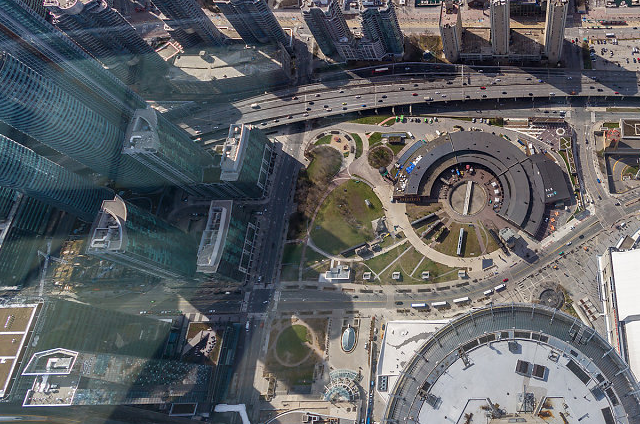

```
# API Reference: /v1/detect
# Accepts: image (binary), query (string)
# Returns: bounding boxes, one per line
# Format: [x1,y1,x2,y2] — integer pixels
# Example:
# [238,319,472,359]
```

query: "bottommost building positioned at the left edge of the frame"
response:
[20,374,197,406]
